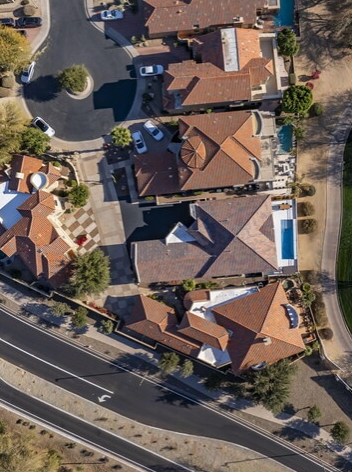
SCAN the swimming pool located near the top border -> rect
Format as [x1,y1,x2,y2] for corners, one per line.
[277,0,296,27]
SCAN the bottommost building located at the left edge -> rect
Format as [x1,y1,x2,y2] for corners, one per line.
[0,155,83,287]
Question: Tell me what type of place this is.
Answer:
residential area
